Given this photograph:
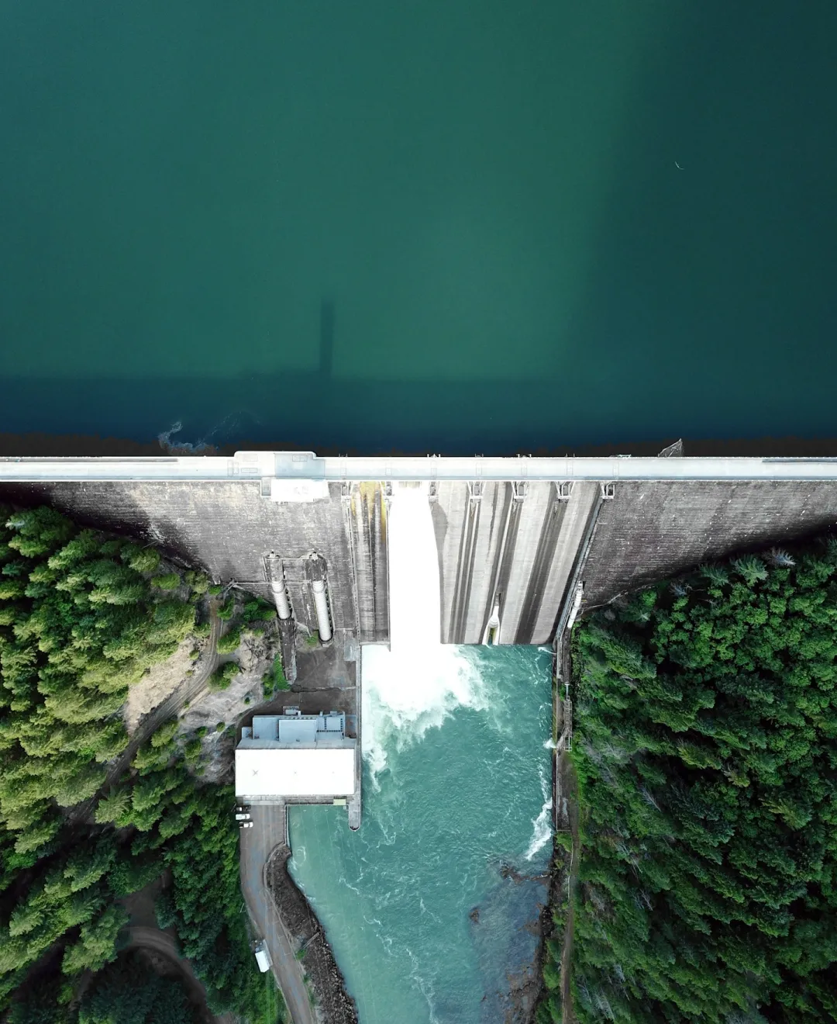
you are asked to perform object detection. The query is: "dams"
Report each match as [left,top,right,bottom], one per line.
[0,451,837,653]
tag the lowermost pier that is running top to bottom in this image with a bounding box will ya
[348,797,362,830]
